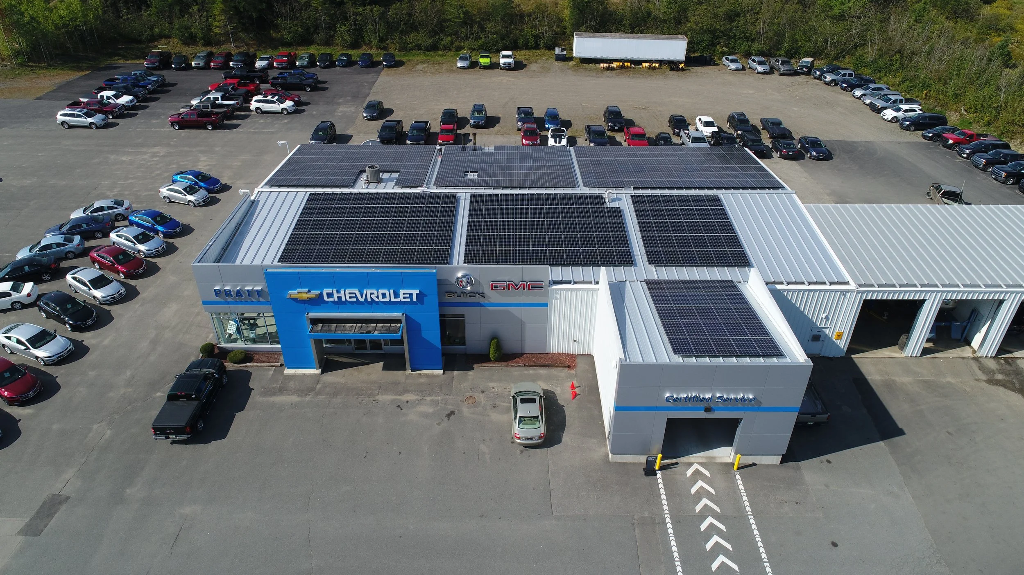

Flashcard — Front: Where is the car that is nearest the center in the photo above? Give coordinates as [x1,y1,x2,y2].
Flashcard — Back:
[509,379,546,442]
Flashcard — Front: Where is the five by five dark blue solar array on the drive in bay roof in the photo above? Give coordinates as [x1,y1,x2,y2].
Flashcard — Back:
[647,278,784,354]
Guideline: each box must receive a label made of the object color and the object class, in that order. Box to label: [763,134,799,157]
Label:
black car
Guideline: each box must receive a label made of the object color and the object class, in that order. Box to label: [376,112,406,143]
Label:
black truck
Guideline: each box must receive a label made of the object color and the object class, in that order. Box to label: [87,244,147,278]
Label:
red car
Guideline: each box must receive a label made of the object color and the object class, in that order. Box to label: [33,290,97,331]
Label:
black car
